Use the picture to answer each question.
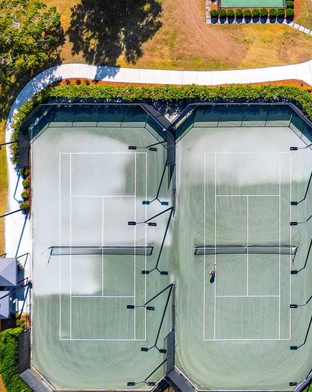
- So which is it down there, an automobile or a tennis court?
tennis court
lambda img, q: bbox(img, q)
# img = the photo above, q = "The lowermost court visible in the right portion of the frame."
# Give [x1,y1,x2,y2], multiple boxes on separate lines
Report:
[175,104,312,392]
